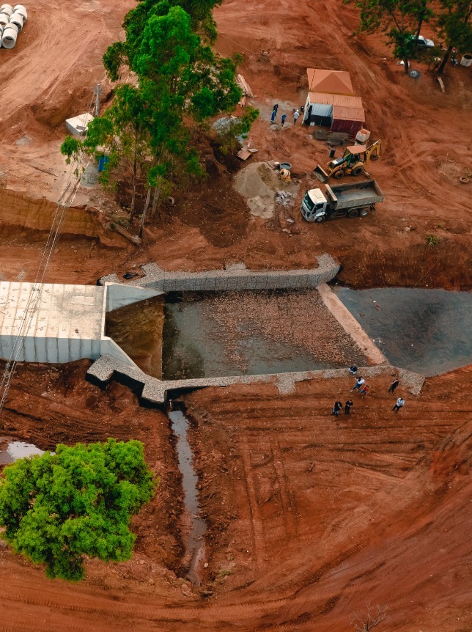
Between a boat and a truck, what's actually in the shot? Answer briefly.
truck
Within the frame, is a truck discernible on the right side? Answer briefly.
Yes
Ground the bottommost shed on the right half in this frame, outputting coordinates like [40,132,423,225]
[304,92,365,142]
